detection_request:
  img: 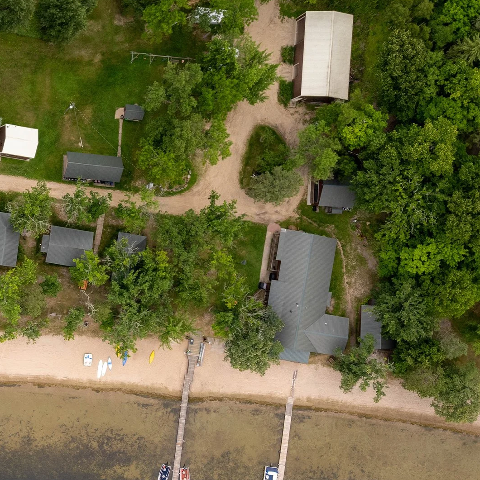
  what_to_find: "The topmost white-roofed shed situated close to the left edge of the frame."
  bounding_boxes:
[0,124,38,163]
